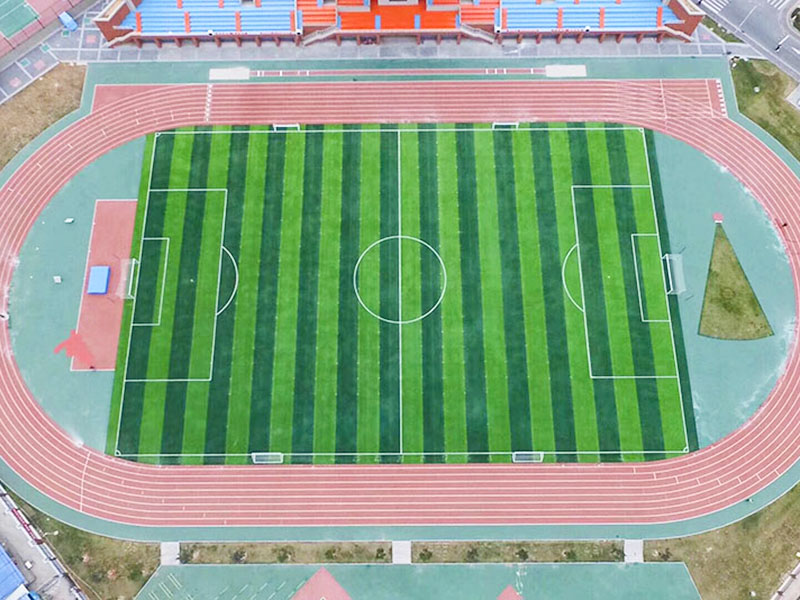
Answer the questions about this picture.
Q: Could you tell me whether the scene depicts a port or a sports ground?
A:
sports ground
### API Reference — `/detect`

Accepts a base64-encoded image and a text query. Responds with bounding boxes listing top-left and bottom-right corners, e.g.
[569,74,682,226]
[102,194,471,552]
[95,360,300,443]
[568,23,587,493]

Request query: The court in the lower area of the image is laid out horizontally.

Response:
[136,562,703,600]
